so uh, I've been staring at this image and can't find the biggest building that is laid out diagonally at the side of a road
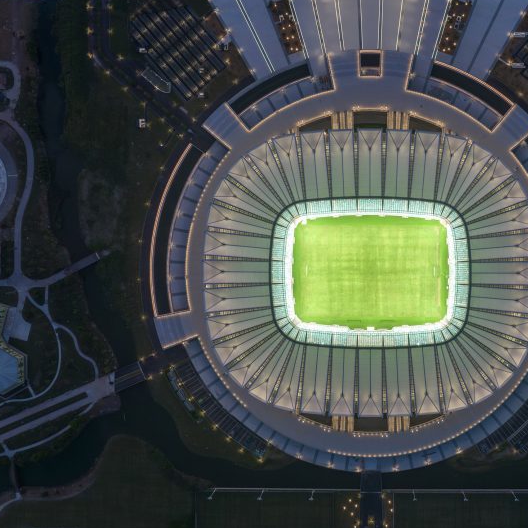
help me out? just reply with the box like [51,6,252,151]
[141,67,172,94]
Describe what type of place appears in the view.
sports ground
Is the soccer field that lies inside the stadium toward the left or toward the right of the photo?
right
